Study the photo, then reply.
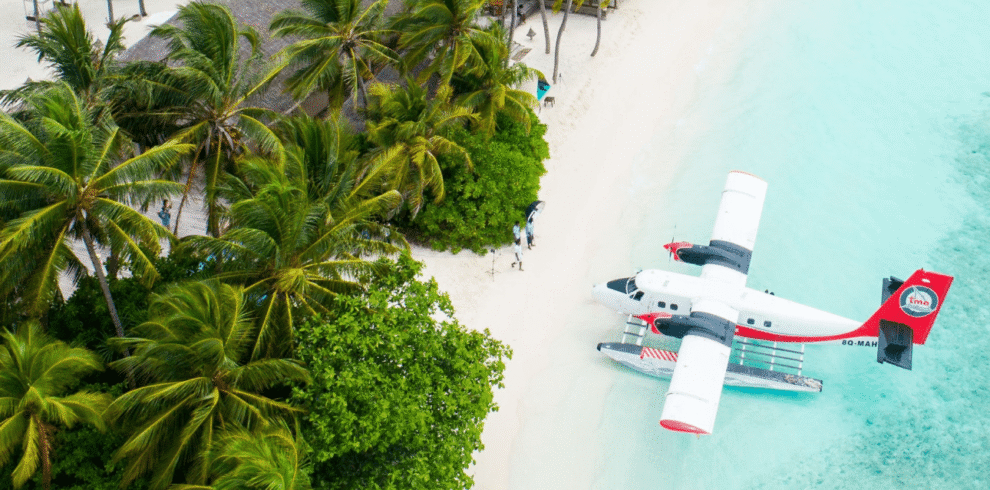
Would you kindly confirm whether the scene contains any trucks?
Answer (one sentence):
No, no truck can be seen from above.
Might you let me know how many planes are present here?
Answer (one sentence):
The photo contains exactly 1 plane.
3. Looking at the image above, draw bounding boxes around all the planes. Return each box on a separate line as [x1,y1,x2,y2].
[592,172,952,434]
